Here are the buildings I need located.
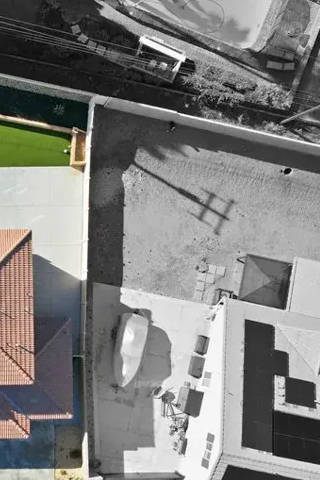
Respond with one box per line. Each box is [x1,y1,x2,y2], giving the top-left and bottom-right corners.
[181,298,320,480]
[0,228,73,440]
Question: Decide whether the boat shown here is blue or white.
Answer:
white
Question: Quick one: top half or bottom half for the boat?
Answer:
bottom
